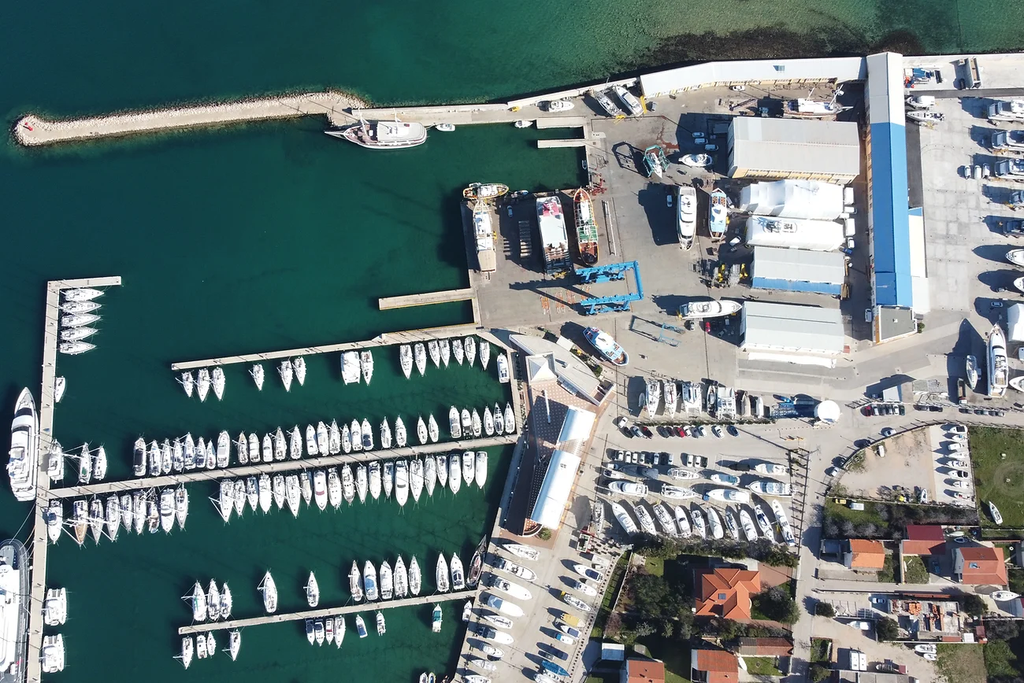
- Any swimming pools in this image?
No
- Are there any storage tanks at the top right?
No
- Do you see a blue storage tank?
No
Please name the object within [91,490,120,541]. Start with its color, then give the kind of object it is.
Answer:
white boat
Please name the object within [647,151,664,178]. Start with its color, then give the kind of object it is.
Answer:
white boat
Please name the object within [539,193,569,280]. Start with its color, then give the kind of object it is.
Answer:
white ship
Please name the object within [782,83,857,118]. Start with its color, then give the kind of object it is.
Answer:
white ship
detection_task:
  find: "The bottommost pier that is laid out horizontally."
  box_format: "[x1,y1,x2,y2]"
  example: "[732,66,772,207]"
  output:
[178,590,476,635]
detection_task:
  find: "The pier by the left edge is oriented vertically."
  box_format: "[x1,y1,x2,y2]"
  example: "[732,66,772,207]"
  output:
[31,276,123,683]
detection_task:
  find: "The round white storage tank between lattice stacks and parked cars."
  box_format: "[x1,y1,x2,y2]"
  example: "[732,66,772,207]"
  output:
[806,399,841,432]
